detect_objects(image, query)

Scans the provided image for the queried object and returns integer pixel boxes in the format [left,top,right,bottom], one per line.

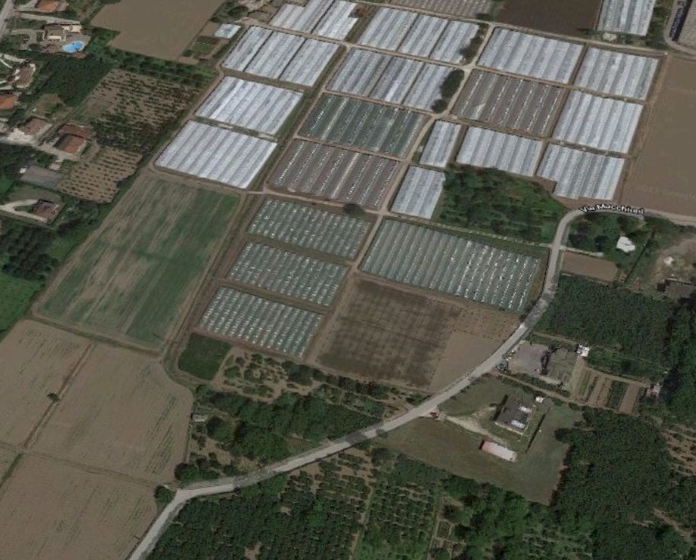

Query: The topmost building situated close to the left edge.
[34,0,65,14]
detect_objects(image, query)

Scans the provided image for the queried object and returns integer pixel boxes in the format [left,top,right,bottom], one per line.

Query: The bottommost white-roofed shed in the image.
[481,442,516,462]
